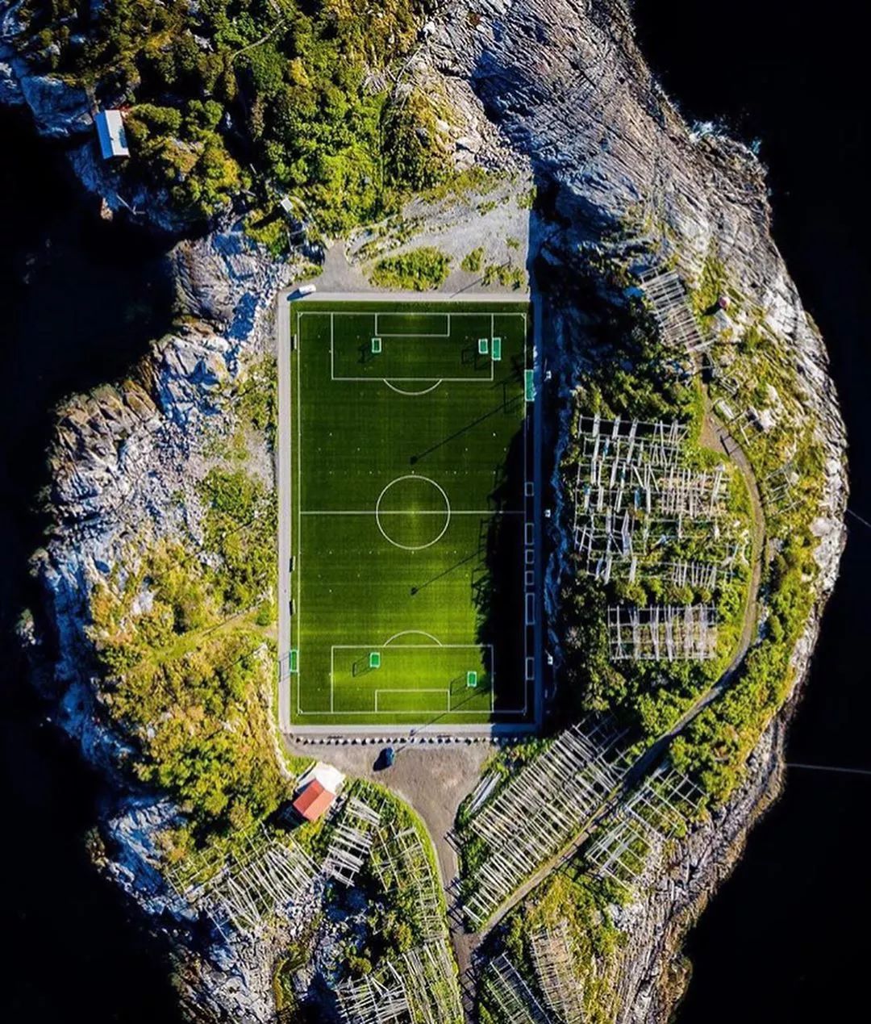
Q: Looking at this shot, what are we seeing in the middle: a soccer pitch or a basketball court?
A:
soccer pitch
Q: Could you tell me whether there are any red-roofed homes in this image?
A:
Yes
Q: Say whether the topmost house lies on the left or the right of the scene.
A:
left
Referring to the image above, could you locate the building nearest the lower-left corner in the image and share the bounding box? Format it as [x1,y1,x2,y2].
[293,778,336,823]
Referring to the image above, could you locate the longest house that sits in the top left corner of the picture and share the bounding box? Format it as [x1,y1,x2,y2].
[95,111,129,165]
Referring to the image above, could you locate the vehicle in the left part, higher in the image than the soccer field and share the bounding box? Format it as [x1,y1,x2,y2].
[299,283,318,295]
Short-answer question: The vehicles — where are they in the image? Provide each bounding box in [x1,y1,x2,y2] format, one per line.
[299,283,318,295]
[383,747,392,766]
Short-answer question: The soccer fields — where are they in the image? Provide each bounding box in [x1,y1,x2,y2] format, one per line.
[291,301,534,724]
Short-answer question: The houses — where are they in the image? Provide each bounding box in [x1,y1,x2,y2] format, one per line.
[293,778,336,823]
[95,111,129,165]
